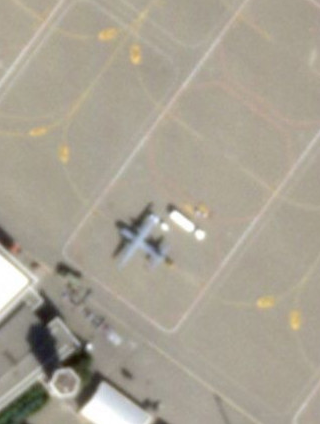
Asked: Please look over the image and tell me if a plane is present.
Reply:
Yes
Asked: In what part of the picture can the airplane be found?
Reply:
center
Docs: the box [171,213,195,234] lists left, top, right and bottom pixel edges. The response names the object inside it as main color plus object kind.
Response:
white truck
